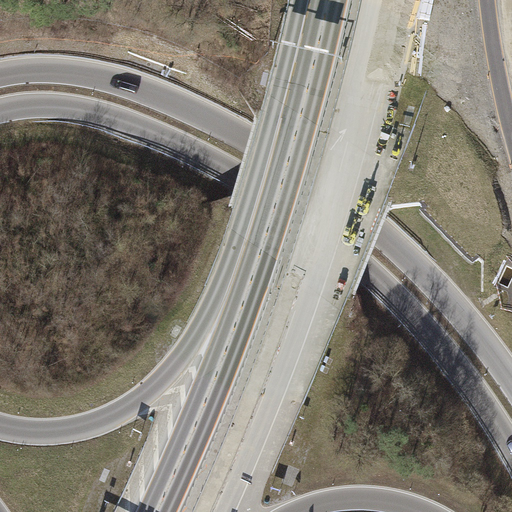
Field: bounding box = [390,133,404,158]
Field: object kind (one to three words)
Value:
work vehicle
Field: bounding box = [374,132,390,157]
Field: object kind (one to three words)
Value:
vehicle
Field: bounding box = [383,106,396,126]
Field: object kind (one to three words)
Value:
vehicle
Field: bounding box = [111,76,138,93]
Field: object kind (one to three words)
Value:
car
